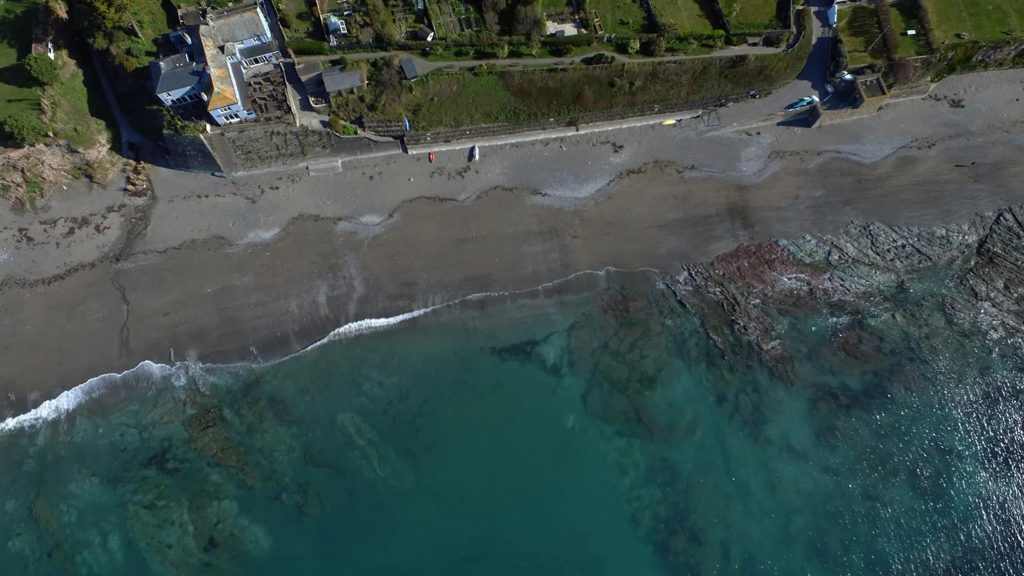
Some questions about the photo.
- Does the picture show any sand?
Yes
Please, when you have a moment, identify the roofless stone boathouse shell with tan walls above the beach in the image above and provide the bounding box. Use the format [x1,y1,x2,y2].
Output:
[848,76,891,111]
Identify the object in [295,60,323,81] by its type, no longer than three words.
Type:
building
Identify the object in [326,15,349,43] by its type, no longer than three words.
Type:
house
